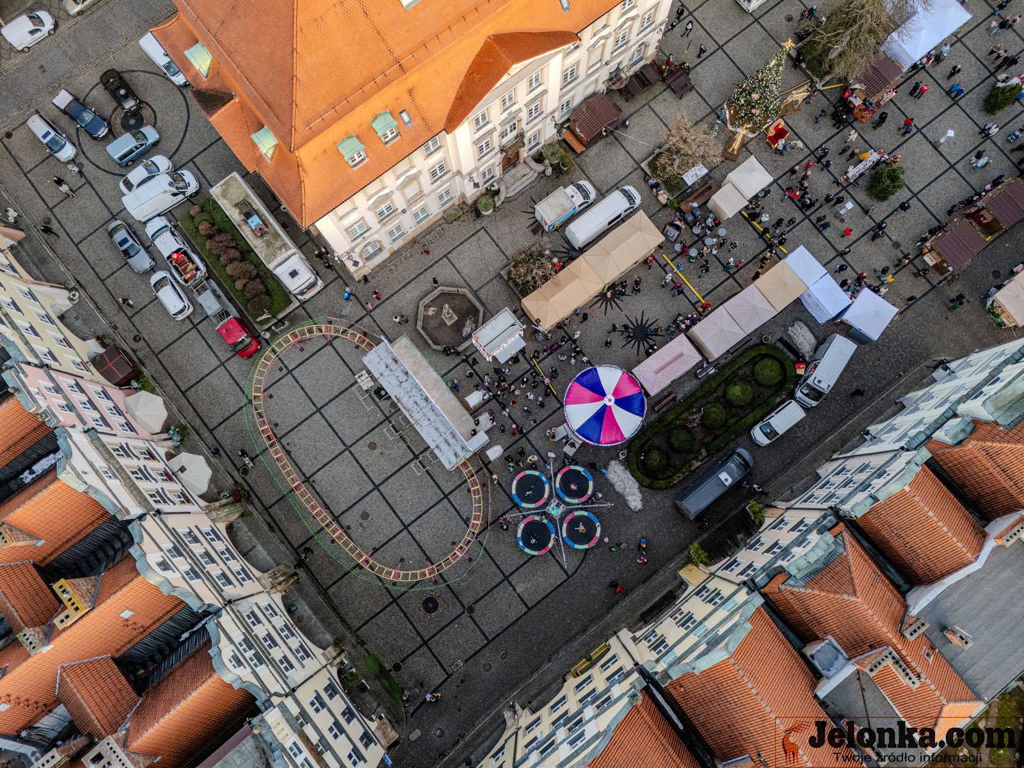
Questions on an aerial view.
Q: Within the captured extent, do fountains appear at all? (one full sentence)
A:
Yes, a fountain can be made out from above.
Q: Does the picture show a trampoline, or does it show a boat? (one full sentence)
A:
This aerial view contains a trampoline.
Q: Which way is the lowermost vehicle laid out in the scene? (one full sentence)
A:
In this picture, the lowermost vehicle is oriented on a diagonal.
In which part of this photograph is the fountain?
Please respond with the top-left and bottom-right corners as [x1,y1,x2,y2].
[414,283,485,353]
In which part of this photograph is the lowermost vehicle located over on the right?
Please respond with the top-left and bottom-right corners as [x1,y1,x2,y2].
[674,446,758,522]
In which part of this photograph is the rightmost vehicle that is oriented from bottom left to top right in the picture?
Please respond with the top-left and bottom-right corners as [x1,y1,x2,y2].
[792,330,872,412]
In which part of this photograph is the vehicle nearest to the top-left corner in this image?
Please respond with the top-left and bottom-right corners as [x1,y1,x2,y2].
[0,13,59,54]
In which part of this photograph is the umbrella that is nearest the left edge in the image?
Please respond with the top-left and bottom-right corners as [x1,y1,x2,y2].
[127,392,168,431]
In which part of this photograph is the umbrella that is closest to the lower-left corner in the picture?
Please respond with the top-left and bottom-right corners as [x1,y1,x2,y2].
[173,455,213,494]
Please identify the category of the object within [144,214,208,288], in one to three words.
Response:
truck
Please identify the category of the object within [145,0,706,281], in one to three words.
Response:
building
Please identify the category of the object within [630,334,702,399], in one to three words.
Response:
tent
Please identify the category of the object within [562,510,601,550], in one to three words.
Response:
trampoline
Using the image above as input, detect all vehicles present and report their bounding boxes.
[0,13,59,54]
[125,19,187,92]
[114,151,177,195]
[196,157,327,301]
[103,219,159,278]
[98,66,146,118]
[561,183,645,253]
[42,79,117,143]
[148,268,198,325]
[184,271,264,360]
[529,177,600,237]
[144,214,208,288]
[115,173,203,229]
[749,399,811,449]
[736,0,786,17]
[19,109,83,165]
[99,123,165,169]
[674,446,758,522]
[792,330,872,412]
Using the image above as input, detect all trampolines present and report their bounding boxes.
[562,510,601,550]
[555,465,593,503]
[517,515,555,555]
[512,471,549,508]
